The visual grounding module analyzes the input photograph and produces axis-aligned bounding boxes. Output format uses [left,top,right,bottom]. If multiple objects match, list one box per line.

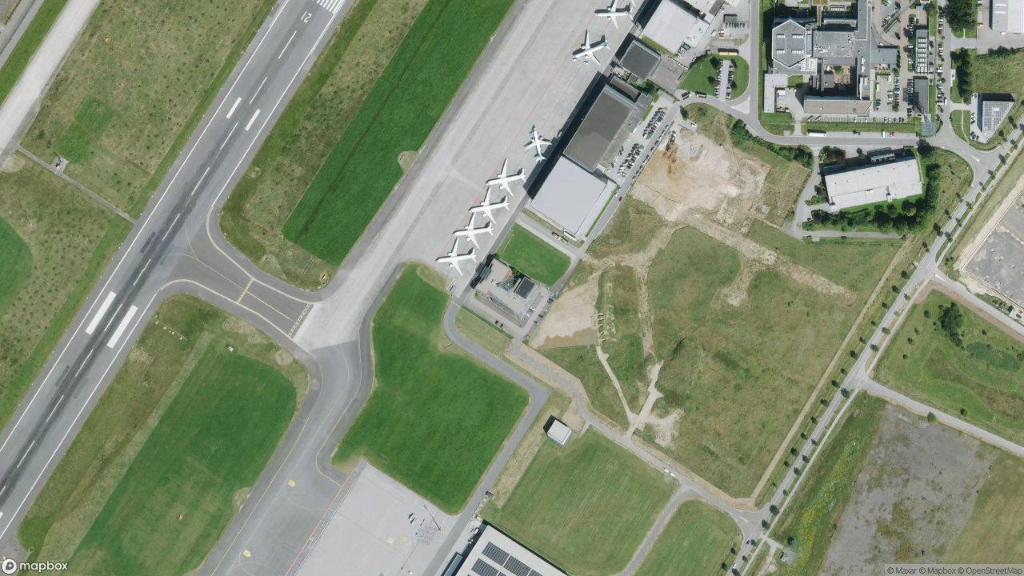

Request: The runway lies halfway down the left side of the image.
[0,0,356,557]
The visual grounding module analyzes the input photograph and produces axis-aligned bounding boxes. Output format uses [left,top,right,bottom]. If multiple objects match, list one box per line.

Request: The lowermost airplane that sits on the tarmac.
[436,239,477,277]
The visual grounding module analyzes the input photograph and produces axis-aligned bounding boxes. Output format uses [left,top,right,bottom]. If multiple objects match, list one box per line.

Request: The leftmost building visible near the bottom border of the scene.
[455,524,572,576]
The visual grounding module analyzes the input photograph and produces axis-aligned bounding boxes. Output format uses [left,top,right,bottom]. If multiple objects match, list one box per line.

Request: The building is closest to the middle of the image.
[470,258,544,319]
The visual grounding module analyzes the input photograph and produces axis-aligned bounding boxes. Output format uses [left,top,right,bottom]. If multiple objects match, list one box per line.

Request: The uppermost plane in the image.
[595,0,635,33]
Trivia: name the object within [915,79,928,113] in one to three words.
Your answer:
building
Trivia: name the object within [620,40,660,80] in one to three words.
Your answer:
hangar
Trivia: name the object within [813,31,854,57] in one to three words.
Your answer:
building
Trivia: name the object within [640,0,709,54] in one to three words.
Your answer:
hangar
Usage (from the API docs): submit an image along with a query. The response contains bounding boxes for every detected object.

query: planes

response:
[469,188,509,225]
[453,212,493,249]
[595,0,635,33]
[436,239,477,277]
[573,31,609,66]
[525,128,552,160]
[487,160,527,197]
